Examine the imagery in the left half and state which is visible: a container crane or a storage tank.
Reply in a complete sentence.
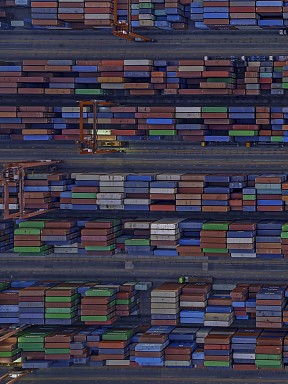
What appears in the left half is a container crane.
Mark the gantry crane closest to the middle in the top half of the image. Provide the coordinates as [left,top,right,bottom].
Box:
[73,101,124,156]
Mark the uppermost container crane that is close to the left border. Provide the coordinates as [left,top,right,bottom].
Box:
[0,161,57,220]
